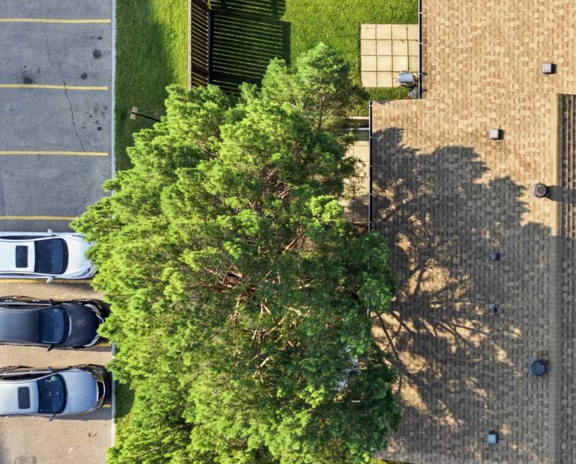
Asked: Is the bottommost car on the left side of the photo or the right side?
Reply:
left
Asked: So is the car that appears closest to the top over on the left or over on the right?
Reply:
left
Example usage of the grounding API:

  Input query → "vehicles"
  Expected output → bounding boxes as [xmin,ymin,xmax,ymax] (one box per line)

[0,299,104,357]
[0,227,98,286]
[0,364,108,425]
